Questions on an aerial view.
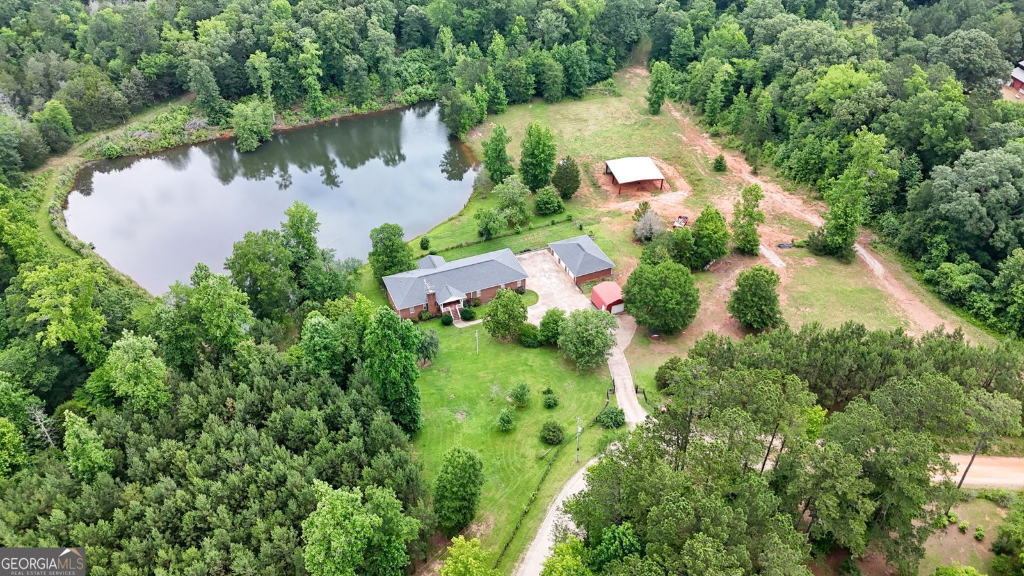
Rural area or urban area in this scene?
rural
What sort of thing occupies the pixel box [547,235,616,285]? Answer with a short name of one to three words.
building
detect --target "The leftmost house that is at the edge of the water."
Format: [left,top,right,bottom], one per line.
[383,248,530,322]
